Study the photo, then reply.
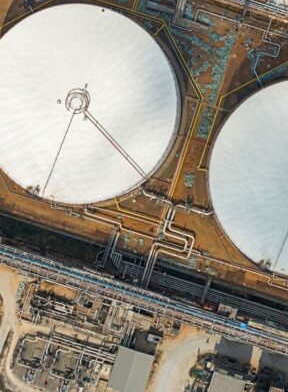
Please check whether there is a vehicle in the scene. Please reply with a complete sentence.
No, there's no vehicle here.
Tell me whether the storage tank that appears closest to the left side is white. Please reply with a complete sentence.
Yes, the storage tank that appears closest to the left side appears white.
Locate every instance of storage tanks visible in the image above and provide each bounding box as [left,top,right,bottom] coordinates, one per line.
[207,78,288,283]
[0,1,191,208]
